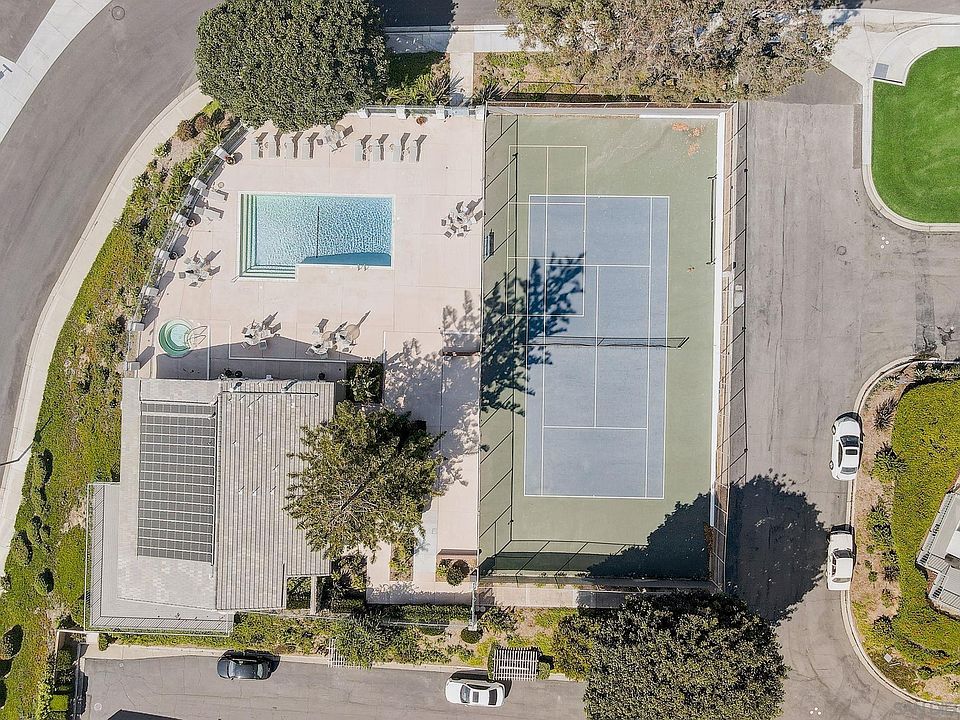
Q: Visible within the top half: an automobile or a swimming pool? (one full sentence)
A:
The feature located within the top half is a swimming pool.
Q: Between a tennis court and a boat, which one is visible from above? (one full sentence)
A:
The image shows a tennis court.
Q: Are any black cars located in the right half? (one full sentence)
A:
No, no black car appears in the right half.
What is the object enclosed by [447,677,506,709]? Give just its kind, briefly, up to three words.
car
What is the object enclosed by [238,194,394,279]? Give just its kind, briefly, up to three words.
swimming pool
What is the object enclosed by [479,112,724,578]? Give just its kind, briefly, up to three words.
tennis court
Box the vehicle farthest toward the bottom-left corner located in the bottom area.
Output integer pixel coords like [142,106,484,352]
[219,652,274,683]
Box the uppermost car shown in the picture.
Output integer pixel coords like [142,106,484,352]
[830,415,863,477]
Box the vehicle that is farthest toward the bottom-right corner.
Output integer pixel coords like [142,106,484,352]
[825,531,857,591]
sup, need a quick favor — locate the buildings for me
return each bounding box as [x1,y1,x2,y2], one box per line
[83,379,337,636]
[915,488,960,615]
